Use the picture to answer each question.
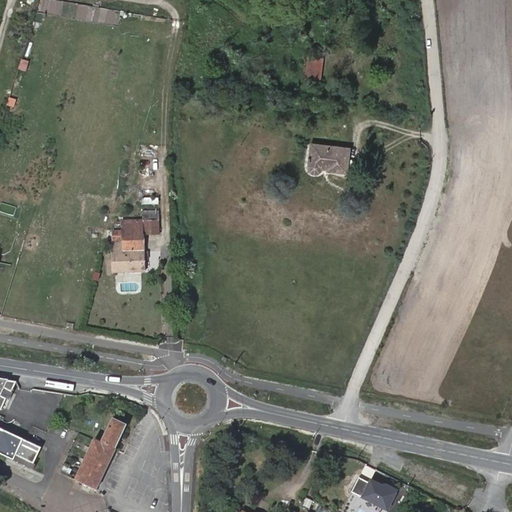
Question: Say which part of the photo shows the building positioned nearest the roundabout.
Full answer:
The building positioned nearest the roundabout sits in the bottom left section of the image.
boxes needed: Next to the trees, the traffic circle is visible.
[120,362,270,452]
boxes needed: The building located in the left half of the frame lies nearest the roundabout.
[100,418,126,449]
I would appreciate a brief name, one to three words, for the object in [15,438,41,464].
building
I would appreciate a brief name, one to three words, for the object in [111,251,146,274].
house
